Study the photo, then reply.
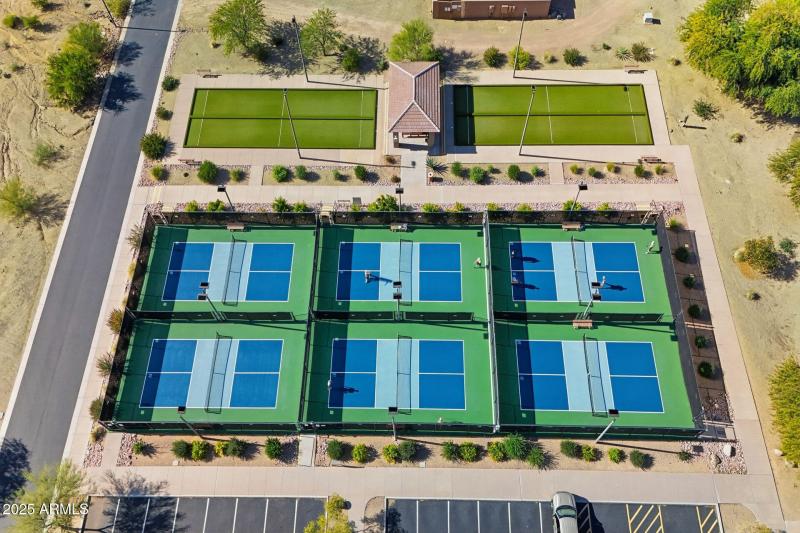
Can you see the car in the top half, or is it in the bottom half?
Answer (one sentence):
The bottom half of the photo is where the car is.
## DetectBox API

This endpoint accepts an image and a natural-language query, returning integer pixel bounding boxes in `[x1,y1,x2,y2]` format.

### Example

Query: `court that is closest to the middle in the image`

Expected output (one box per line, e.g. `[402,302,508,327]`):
[311,224,487,321]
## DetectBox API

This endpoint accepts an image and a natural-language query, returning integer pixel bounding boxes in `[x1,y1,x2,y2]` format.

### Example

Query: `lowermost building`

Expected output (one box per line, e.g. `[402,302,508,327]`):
[388,61,442,158]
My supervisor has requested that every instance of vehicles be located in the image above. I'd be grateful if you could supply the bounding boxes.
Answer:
[553,493,581,533]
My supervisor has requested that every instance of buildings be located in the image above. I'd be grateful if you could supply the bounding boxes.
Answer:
[433,0,552,20]
[388,61,442,158]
